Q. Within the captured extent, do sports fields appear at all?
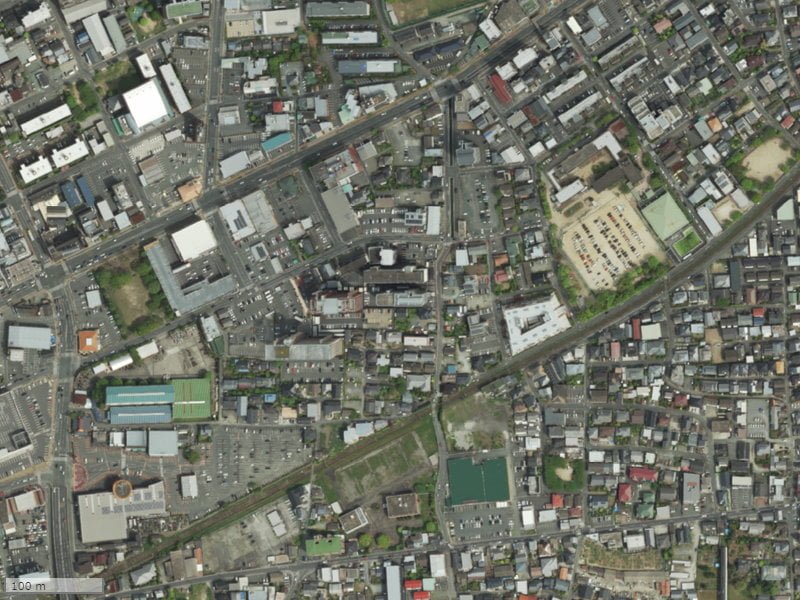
Yes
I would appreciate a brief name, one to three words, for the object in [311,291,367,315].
building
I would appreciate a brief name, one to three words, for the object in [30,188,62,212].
building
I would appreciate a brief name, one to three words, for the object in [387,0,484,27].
sports field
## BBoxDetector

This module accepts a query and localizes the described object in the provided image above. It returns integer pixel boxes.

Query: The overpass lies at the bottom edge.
[51,500,75,600]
